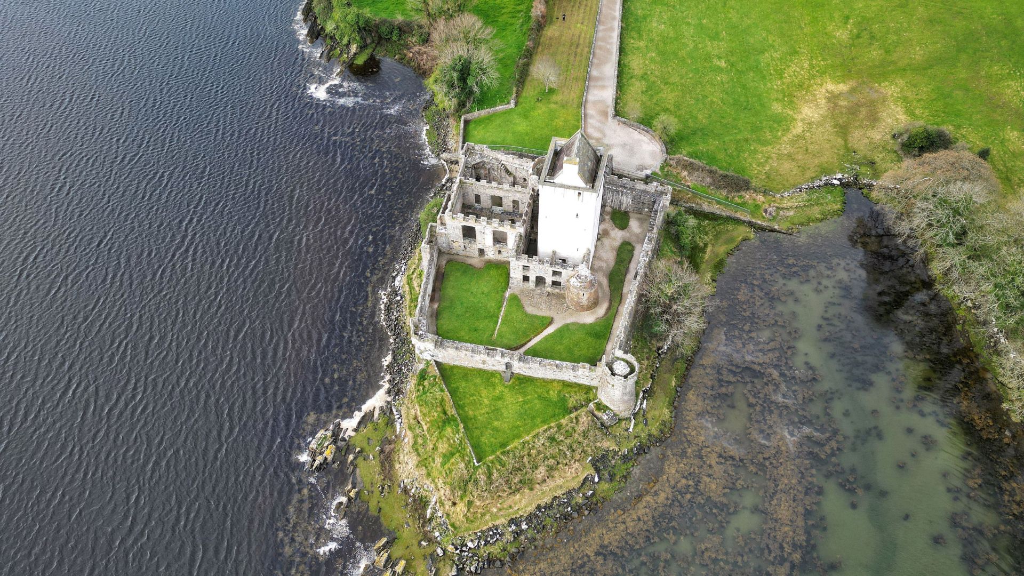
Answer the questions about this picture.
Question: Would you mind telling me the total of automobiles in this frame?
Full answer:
The picture shows no automobiles.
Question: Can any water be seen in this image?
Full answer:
Yes, there's water in this view.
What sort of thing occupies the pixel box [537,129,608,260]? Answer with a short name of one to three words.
house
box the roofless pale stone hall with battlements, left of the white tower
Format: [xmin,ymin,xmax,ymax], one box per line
[433,138,545,273]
